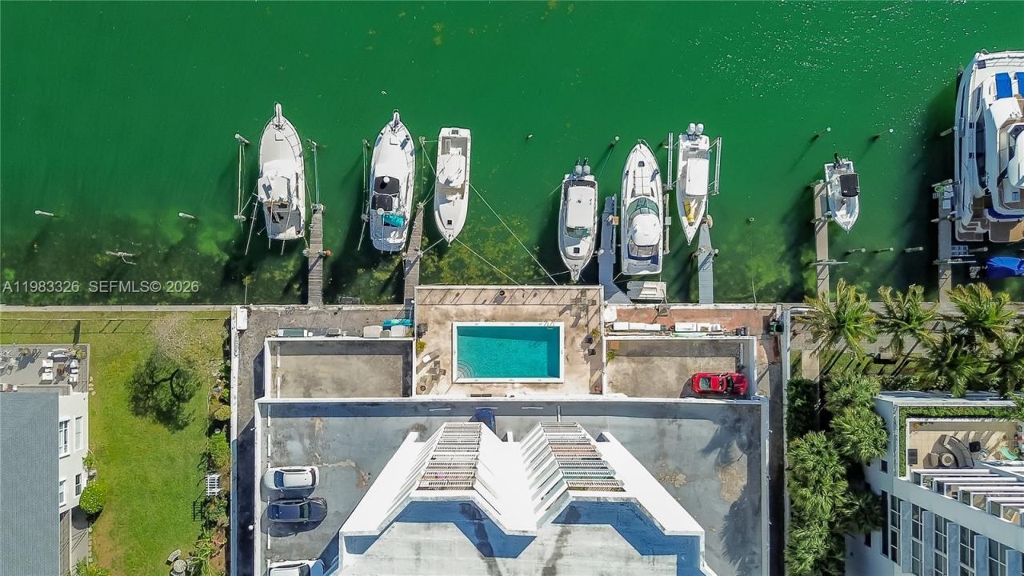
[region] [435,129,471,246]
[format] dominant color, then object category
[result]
white boat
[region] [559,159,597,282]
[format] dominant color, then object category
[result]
white boat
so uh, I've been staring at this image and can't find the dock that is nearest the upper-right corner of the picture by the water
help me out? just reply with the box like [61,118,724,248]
[918,184,952,302]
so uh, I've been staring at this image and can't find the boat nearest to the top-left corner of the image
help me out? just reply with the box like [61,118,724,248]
[244,102,305,255]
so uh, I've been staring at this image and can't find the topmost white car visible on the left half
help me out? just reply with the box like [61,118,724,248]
[263,465,320,493]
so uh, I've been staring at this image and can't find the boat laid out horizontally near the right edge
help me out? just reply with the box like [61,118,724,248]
[964,257,1024,280]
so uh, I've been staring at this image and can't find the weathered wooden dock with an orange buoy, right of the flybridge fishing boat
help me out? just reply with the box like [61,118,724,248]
[308,203,330,306]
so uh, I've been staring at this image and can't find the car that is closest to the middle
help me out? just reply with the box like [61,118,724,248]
[473,403,499,436]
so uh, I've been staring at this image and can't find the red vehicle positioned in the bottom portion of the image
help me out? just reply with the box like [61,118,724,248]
[689,371,748,394]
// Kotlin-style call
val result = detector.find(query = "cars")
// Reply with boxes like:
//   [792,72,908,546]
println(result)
[473,403,499,436]
[266,557,326,576]
[263,465,320,493]
[267,495,327,524]
[689,371,748,394]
